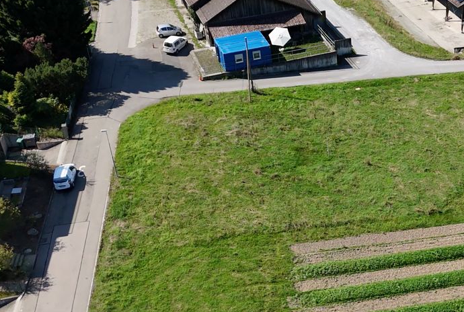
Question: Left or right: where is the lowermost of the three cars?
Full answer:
You can find the lowermost of the three cars on the left side of the picture.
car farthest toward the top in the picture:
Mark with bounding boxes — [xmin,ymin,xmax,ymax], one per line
[157,22,184,36]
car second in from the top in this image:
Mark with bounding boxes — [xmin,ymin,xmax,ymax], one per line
[163,36,192,54]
